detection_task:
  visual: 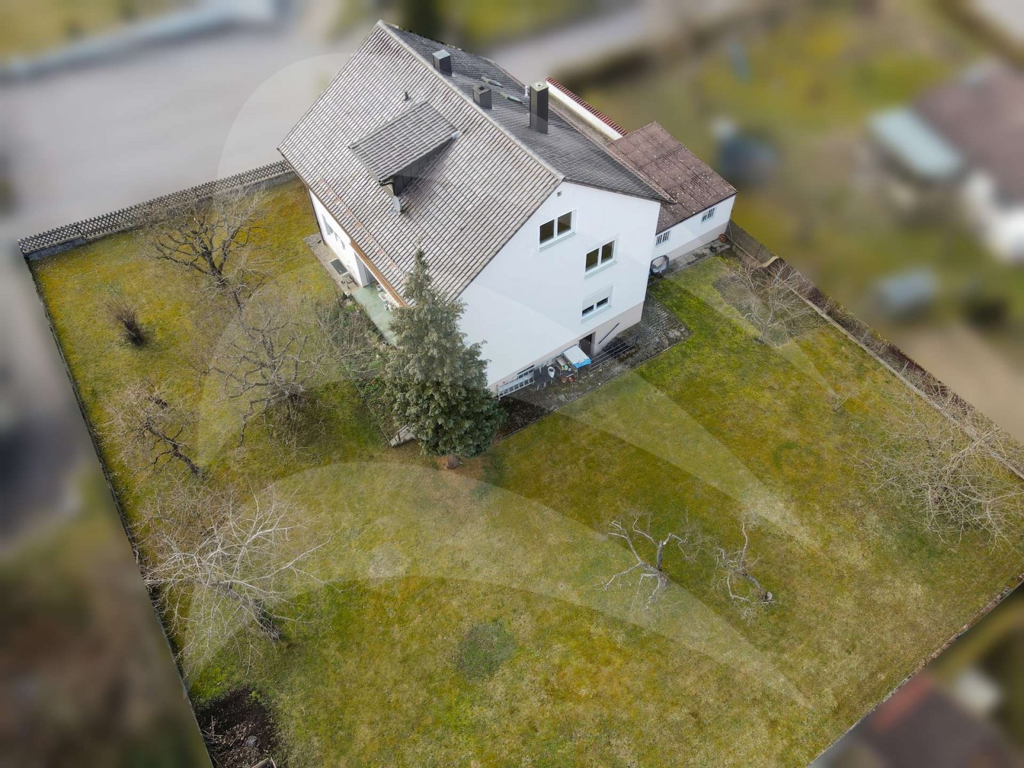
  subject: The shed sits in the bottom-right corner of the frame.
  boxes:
[861,661,1024,768]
